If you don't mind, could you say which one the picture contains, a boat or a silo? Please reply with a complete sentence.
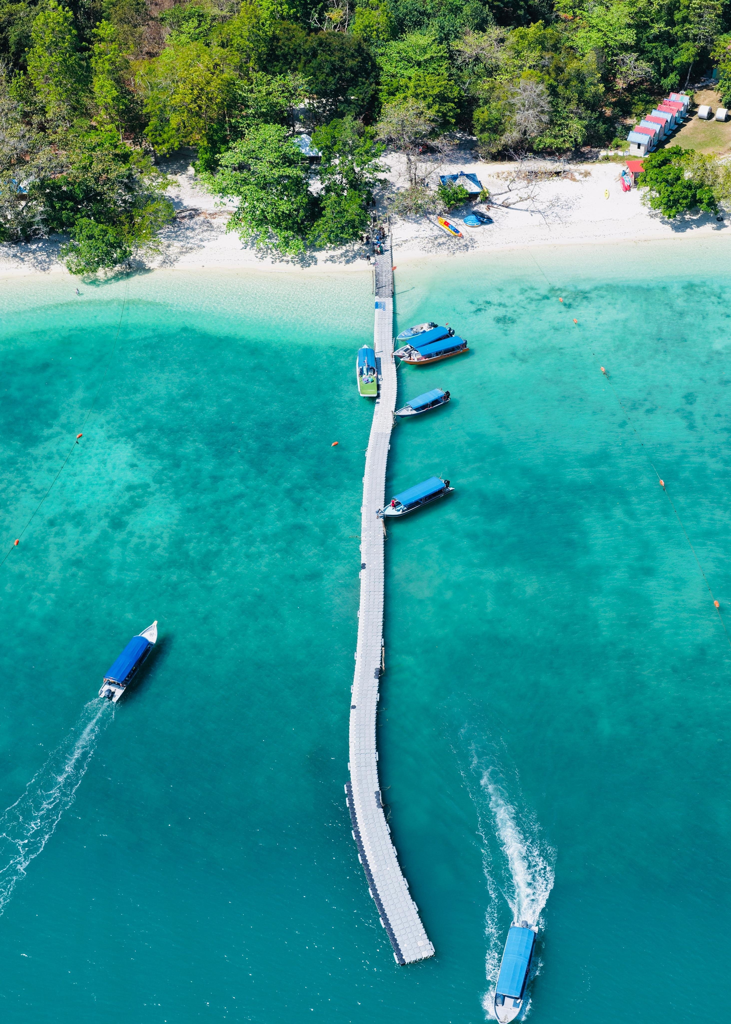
The image shows a boat.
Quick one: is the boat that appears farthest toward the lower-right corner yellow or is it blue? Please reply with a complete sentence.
From above, the boat that appears farthest toward the lower-right corner appears blue.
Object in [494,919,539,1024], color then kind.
blue boat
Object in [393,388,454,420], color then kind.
blue boat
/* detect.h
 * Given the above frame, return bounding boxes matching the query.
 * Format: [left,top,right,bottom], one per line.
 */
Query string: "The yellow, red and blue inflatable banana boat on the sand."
[437,215,463,234]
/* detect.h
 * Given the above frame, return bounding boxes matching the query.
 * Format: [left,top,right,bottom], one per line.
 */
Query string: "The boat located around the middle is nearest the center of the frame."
[380,474,458,523]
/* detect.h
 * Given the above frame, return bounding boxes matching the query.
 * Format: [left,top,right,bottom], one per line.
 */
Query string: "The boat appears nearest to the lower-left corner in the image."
[99,619,157,704]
